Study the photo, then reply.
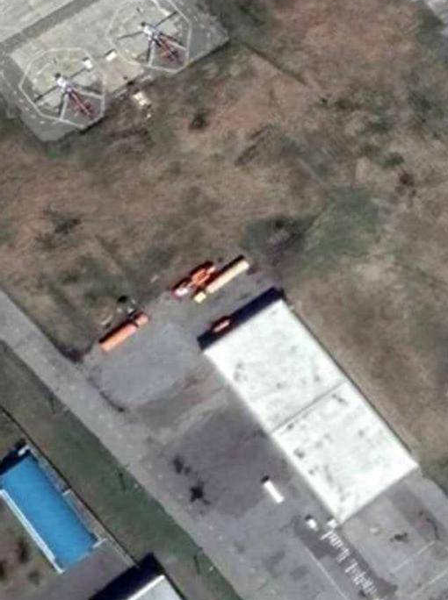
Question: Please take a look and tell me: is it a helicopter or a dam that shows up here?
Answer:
helicopter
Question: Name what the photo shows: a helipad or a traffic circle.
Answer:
helipad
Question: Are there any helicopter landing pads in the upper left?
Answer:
Yes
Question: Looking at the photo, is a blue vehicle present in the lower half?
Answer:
No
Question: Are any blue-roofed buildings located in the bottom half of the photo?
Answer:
Yes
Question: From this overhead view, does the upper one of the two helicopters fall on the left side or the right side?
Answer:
left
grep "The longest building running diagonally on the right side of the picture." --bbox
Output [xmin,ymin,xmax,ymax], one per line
[203,298,417,523]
